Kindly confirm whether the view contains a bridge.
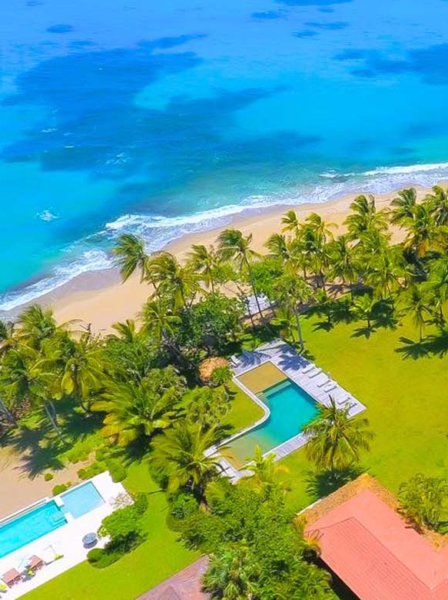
No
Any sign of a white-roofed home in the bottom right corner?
No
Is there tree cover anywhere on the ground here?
Yes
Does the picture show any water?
Yes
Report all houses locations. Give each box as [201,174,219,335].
[140,555,247,600]
[289,484,448,600]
